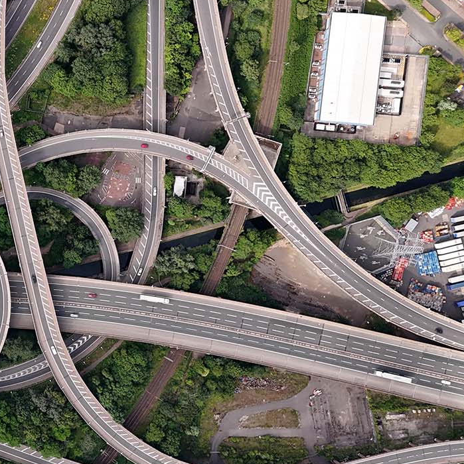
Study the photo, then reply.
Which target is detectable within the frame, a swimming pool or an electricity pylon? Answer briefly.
electricity pylon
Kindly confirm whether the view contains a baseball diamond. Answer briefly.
No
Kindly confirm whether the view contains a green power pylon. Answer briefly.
No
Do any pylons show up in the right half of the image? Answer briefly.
Yes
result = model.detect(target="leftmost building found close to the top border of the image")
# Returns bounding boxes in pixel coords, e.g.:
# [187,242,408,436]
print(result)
[310,11,410,127]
